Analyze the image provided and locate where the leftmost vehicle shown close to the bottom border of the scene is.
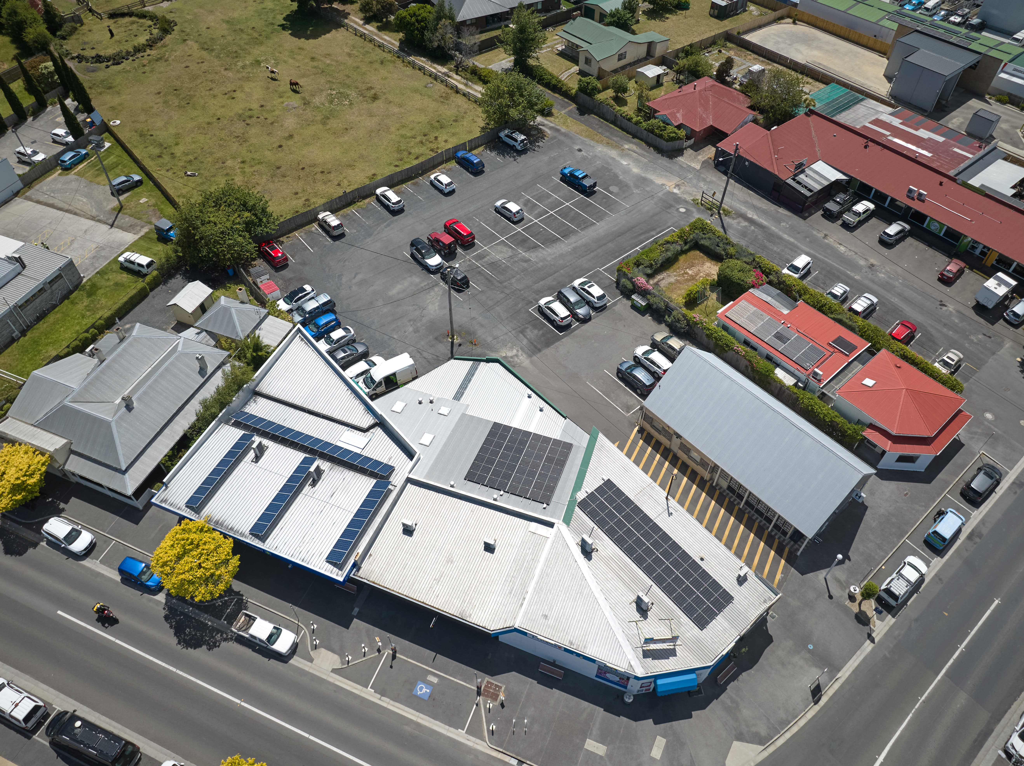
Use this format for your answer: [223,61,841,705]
[0,676,52,736]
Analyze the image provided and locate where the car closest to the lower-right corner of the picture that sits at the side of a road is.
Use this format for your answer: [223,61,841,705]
[994,705,1024,764]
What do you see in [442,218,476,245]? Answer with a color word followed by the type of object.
red car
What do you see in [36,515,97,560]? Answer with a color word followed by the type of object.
white car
